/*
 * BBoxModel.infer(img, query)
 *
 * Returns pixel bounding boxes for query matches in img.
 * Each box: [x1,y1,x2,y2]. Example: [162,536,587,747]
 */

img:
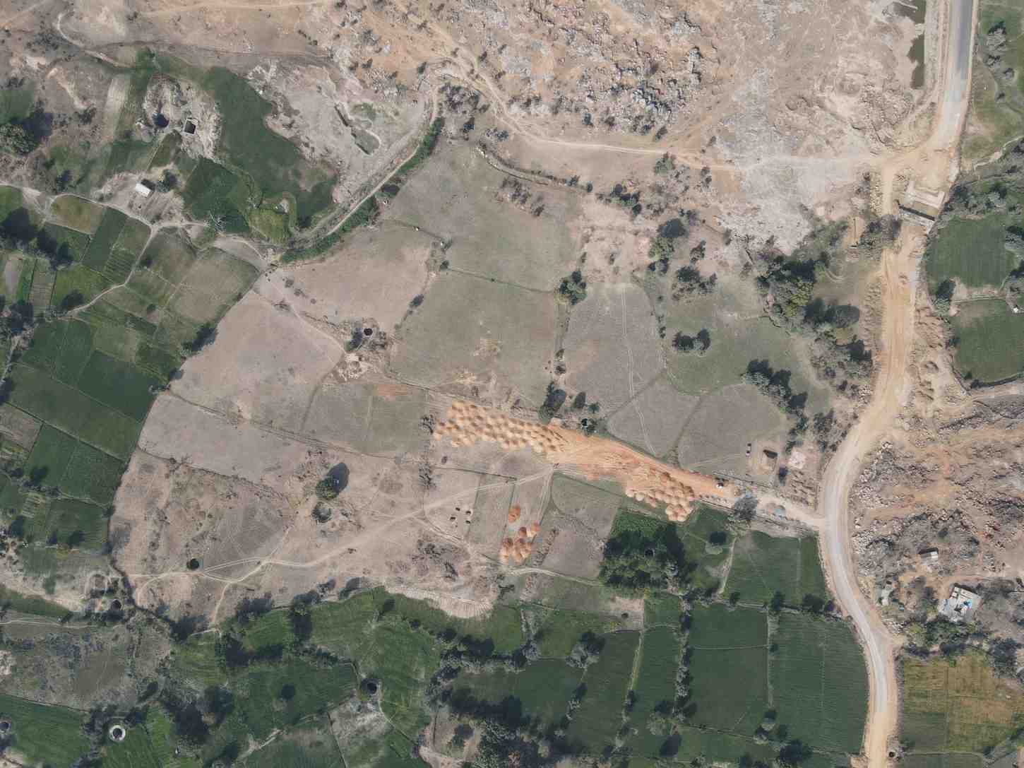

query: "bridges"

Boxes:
[899,183,945,233]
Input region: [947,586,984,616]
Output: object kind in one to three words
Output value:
house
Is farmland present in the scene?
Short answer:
Yes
